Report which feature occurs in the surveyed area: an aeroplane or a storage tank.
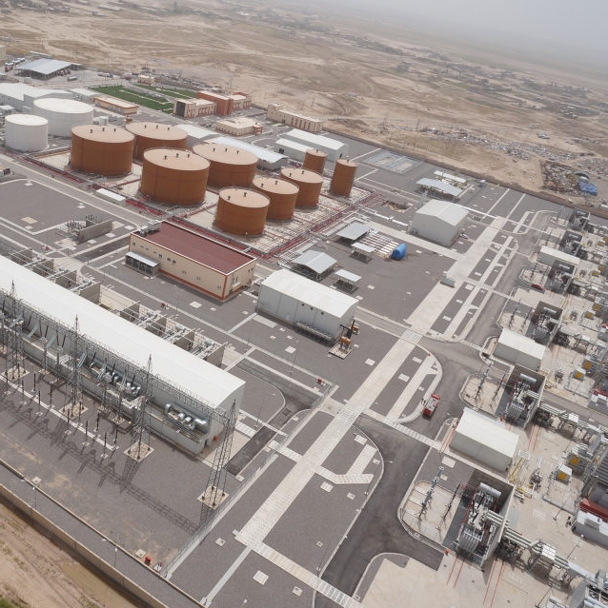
storage tank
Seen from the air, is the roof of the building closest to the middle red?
No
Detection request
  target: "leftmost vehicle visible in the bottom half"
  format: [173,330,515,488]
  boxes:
[424,394,442,413]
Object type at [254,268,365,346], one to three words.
building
